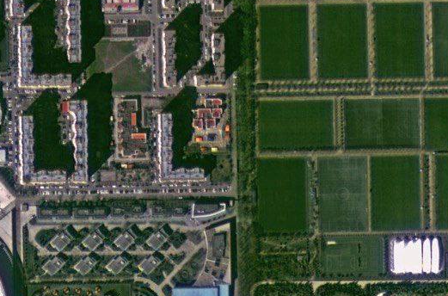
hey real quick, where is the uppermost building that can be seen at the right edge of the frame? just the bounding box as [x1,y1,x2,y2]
[389,237,444,277]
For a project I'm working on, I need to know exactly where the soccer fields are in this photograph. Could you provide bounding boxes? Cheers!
[425,98,448,151]
[432,2,448,75]
[257,158,307,234]
[345,99,420,150]
[373,3,424,79]
[316,4,367,80]
[319,157,367,232]
[258,100,333,150]
[371,156,420,231]
[435,154,448,229]
[259,4,308,81]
